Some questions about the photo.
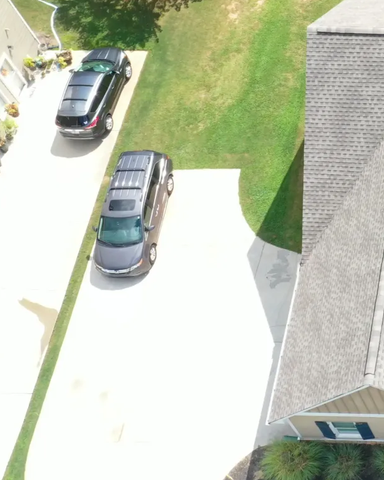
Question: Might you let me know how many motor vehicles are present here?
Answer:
two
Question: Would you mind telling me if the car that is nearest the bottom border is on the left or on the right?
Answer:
left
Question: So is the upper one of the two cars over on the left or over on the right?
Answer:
left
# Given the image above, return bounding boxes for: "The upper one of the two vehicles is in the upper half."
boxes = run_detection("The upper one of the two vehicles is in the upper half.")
[47,49,132,147]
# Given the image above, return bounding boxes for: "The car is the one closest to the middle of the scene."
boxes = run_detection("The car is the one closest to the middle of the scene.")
[83,150,173,289]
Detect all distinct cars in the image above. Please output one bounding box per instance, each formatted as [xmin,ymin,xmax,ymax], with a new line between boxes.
[83,150,173,289]
[47,49,132,147]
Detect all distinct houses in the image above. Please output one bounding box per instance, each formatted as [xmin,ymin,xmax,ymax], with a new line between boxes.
[0,0,38,126]
[264,0,384,445]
